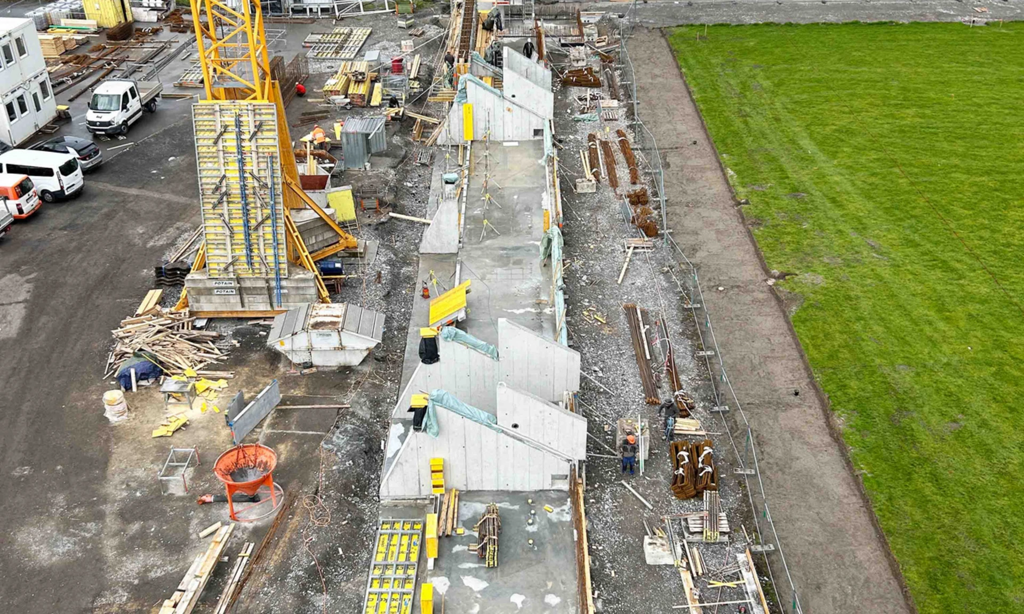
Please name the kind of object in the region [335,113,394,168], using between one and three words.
shed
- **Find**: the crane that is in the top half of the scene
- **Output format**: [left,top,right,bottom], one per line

[172,0,355,314]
